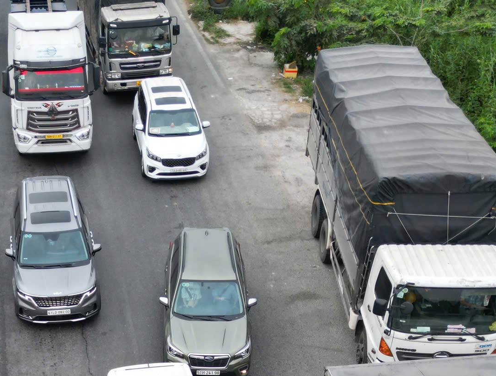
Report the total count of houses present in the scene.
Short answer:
0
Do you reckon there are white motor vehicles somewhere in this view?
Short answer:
Yes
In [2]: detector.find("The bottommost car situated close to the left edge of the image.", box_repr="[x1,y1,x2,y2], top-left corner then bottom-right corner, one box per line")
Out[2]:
[6,174,101,321]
